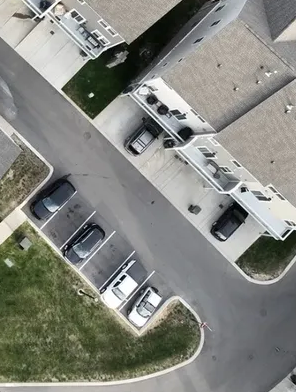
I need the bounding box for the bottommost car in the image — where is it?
[127,287,169,332]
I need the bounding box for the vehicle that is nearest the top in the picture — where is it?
[126,116,168,158]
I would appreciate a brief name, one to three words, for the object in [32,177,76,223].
car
